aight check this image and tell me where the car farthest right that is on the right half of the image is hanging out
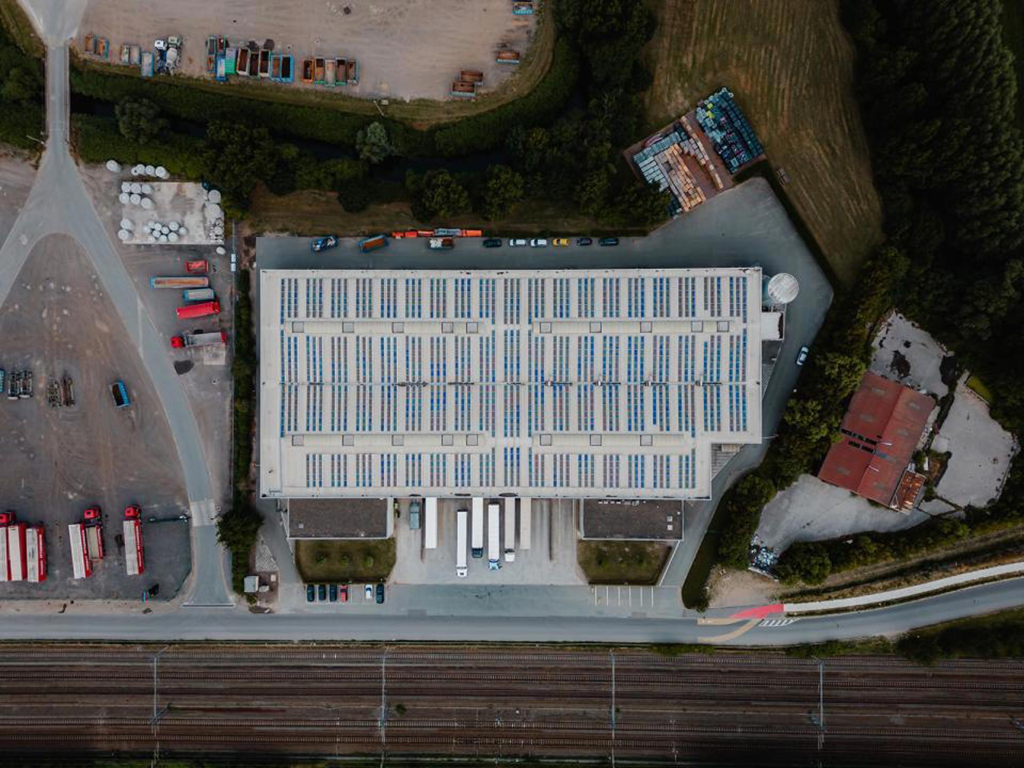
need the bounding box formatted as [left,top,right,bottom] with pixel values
[795,346,808,365]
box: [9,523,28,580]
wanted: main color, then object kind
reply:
white trailer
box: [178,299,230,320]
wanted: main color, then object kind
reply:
red truck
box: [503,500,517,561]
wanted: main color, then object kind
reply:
white vehicle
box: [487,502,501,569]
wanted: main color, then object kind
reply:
white vehicle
